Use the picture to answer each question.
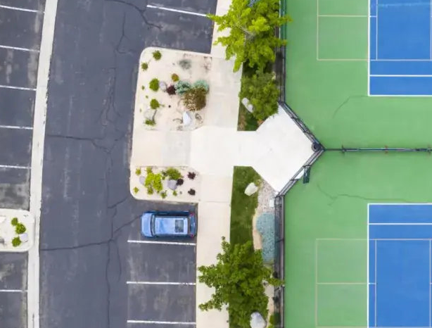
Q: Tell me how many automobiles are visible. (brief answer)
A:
1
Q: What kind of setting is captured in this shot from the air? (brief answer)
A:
sports ground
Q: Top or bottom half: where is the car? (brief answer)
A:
bottom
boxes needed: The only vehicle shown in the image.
[142,208,200,240]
